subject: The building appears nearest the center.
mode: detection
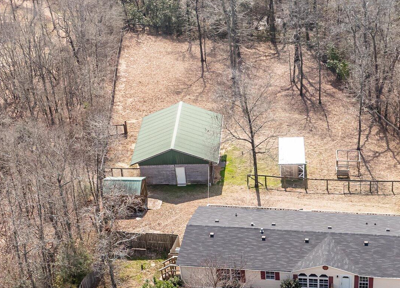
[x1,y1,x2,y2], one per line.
[132,97,228,188]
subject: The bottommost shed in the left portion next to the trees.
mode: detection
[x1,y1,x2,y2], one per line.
[104,179,147,207]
